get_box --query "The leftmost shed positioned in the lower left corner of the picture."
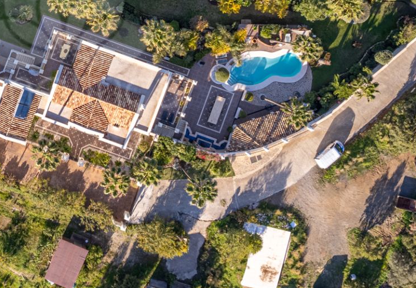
[45,233,89,288]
